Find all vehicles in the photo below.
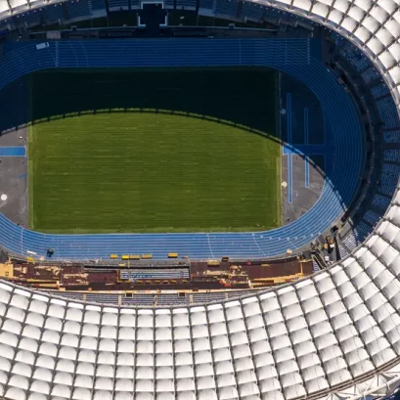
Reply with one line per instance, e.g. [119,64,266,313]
[35,42,50,49]
[47,245,54,255]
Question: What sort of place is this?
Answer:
sports ground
